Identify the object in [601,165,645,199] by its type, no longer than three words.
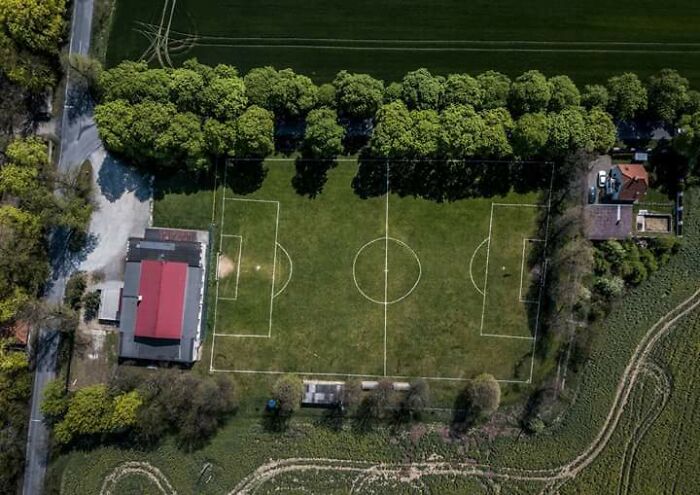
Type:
house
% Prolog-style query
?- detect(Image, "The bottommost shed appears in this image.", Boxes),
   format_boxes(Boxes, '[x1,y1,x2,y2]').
[301,375,343,403]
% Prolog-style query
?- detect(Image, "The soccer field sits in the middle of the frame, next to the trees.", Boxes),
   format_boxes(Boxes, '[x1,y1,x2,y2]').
[204,155,560,388]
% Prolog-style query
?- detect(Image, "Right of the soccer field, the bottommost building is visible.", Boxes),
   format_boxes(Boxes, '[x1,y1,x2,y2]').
[581,204,632,239]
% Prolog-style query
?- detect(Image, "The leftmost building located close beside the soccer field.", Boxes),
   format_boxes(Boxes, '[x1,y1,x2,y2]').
[120,228,213,364]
